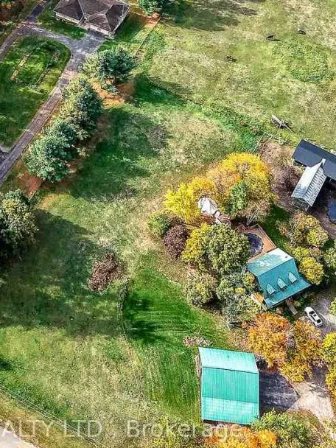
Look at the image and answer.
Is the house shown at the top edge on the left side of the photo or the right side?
left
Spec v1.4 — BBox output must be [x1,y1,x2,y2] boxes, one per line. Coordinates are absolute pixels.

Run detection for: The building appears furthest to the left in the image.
[53,0,131,38]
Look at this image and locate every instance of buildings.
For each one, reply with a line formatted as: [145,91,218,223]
[198,347,260,427]
[53,0,131,38]
[240,248,311,310]
[290,141,336,212]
